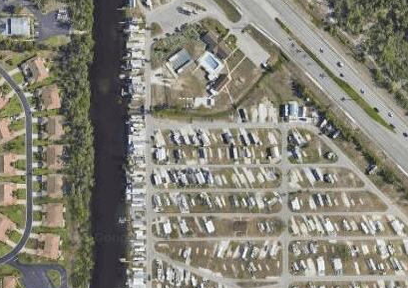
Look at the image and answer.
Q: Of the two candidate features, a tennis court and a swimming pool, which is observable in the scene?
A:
swimming pool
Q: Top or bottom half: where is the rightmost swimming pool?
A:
top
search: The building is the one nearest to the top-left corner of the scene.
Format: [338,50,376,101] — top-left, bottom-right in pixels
[0,18,30,37]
